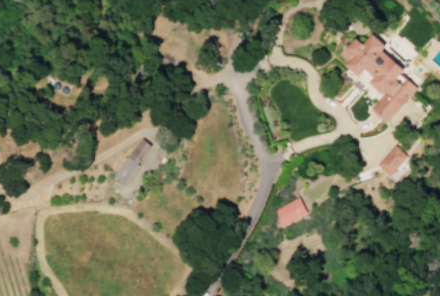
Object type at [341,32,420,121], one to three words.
house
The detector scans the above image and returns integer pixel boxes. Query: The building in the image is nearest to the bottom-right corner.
[380,145,409,174]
